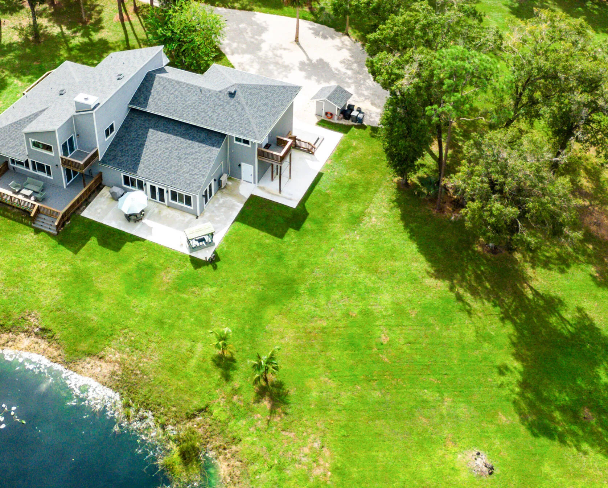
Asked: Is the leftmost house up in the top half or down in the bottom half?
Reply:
top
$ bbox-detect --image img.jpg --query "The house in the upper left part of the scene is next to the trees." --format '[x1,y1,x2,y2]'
[0,45,321,217]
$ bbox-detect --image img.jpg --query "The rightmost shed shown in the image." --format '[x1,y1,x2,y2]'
[313,82,350,122]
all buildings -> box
[313,82,350,122]
[0,45,321,217]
